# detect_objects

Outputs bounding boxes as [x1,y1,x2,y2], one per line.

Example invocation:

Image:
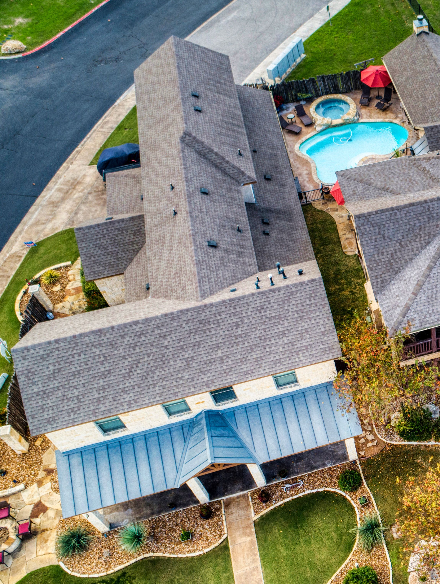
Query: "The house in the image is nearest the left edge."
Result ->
[9,36,362,536]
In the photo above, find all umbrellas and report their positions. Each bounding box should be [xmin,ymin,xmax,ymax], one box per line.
[360,66,390,100]
[325,178,345,206]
